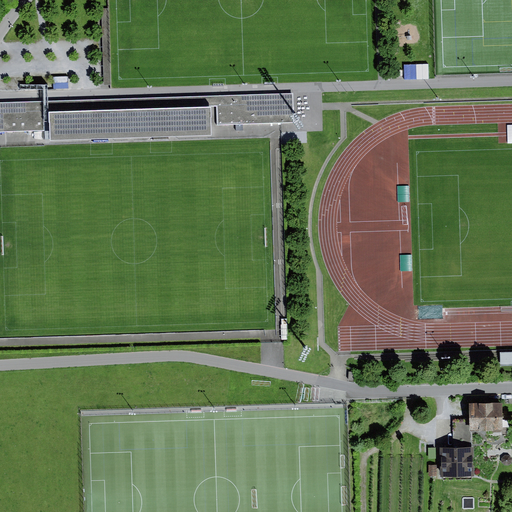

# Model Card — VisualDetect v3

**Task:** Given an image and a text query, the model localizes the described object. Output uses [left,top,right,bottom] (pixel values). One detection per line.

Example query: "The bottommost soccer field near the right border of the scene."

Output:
[409,122,512,306]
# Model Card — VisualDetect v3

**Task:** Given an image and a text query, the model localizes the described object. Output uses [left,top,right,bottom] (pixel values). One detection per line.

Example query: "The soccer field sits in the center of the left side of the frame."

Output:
[0,138,276,338]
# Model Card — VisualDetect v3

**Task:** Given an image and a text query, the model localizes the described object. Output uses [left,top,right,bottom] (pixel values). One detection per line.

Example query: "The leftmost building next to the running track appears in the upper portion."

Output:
[0,93,294,132]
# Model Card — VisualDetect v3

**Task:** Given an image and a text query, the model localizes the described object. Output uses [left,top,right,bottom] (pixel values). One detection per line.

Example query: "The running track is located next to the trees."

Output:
[318,104,512,350]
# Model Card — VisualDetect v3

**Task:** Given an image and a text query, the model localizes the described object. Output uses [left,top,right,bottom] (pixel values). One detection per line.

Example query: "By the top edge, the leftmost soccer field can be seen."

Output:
[110,0,376,88]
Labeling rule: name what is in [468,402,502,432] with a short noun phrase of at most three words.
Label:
house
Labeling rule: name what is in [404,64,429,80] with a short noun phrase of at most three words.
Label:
building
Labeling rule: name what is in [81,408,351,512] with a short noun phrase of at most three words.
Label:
soccer field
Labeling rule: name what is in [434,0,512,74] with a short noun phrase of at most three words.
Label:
soccer field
